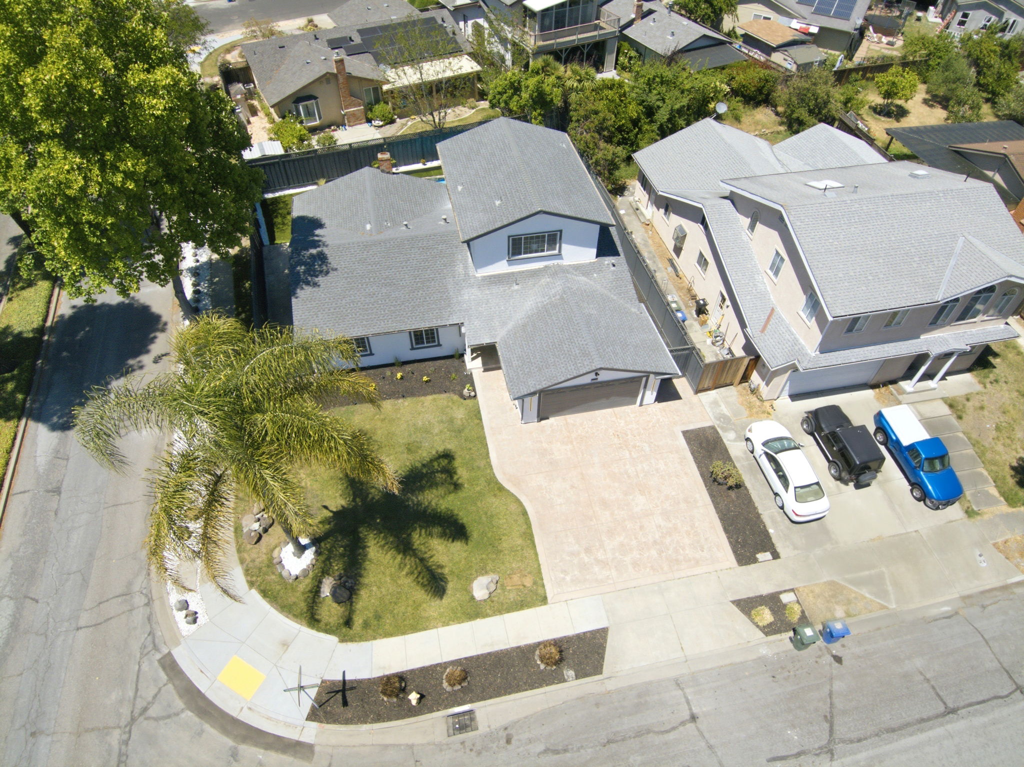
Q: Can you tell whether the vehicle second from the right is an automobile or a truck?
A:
automobile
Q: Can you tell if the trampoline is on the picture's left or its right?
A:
right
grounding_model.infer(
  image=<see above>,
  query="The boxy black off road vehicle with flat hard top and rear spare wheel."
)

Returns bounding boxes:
[803,403,899,484]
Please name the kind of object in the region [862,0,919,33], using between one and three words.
trampoline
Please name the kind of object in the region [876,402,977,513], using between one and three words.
truck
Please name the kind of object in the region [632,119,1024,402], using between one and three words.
house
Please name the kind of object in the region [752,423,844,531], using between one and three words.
car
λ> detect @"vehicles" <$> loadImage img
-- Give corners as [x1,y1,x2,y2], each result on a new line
[803,403,899,484]
[876,402,977,513]
[752,423,844,531]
